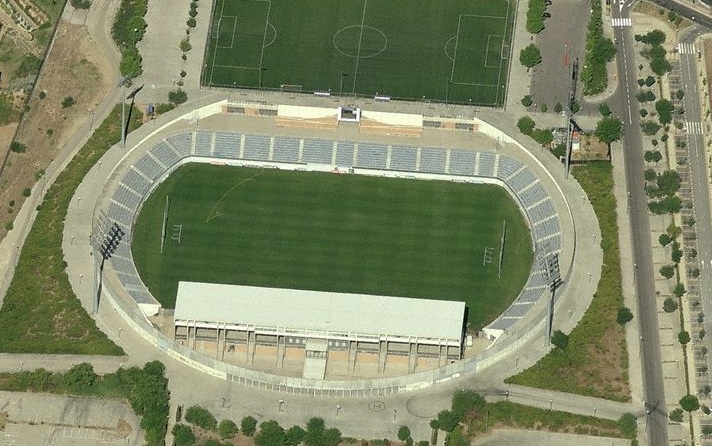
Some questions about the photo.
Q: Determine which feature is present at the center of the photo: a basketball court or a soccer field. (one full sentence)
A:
Looking at the center of the photo, you will find a soccer field.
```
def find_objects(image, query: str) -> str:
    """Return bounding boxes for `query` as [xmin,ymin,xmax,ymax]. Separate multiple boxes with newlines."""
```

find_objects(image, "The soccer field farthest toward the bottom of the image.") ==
[133,159,536,330]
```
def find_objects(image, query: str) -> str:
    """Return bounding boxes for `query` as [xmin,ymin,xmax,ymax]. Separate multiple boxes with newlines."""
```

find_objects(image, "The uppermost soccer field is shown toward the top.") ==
[202,0,517,109]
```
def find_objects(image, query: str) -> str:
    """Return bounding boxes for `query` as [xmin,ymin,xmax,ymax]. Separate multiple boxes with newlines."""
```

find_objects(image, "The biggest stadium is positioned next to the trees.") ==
[92,98,578,397]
